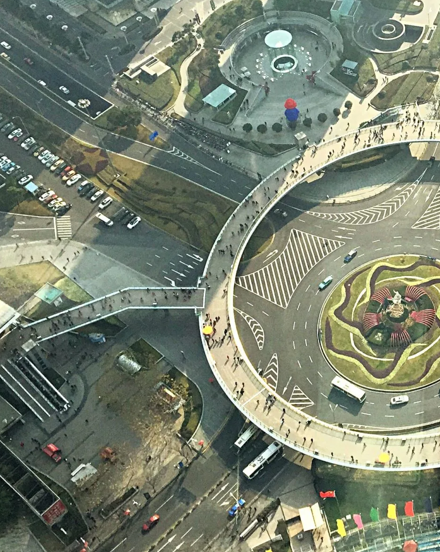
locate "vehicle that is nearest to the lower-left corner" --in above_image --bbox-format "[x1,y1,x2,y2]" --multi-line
[141,514,161,532]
